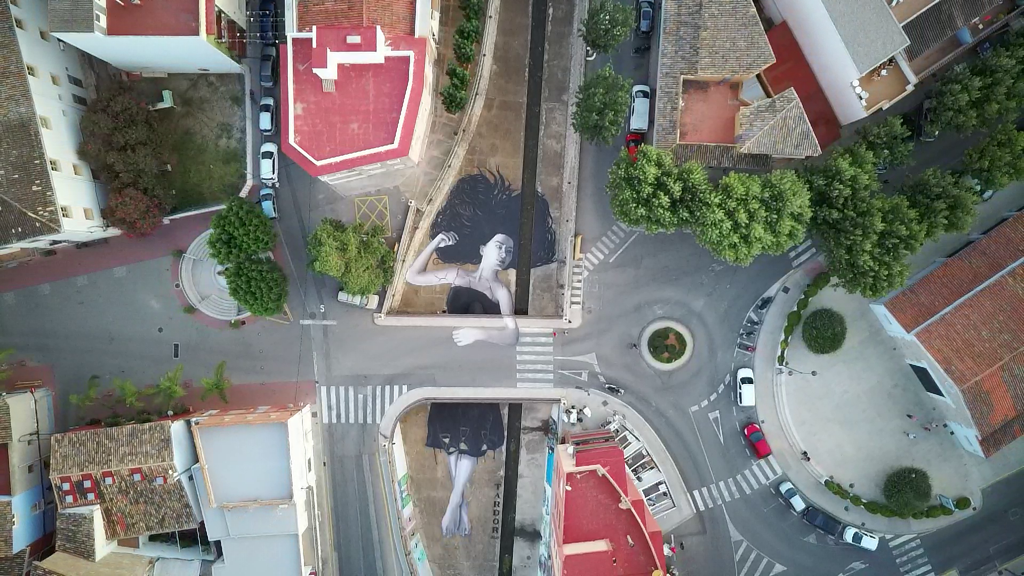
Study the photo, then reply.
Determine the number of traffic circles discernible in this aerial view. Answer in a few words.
1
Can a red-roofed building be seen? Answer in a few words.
Yes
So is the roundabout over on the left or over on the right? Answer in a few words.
right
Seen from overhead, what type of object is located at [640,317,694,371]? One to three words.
roundabout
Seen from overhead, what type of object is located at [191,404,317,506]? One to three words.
house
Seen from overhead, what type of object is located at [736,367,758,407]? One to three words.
car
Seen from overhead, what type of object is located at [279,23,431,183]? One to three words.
house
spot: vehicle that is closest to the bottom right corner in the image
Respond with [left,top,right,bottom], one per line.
[841,524,882,552]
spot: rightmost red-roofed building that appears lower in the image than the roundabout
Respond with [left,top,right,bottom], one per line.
[553,419,666,576]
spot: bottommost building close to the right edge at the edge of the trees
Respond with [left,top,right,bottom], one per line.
[870,198,1024,460]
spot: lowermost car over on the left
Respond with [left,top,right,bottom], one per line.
[335,287,379,311]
